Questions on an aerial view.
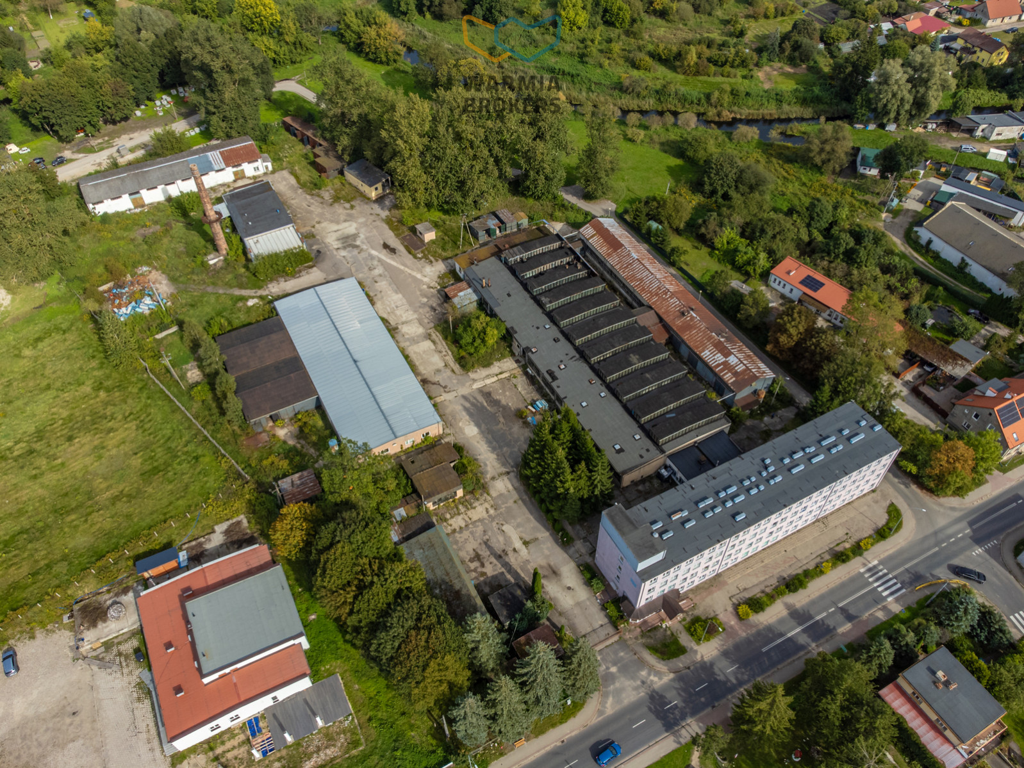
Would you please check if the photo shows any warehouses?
Yes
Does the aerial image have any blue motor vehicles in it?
Yes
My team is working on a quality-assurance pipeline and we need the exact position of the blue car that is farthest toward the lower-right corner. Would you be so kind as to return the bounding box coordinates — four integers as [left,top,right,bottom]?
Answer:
[596,738,624,768]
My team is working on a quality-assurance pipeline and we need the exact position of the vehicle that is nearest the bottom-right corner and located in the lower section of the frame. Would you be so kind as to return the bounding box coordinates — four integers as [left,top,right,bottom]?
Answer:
[956,563,989,584]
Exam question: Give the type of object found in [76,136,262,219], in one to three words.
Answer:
shed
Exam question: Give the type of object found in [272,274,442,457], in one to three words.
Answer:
warehouse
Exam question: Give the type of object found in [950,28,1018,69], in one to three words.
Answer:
house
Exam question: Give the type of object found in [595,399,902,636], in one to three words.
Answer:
building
